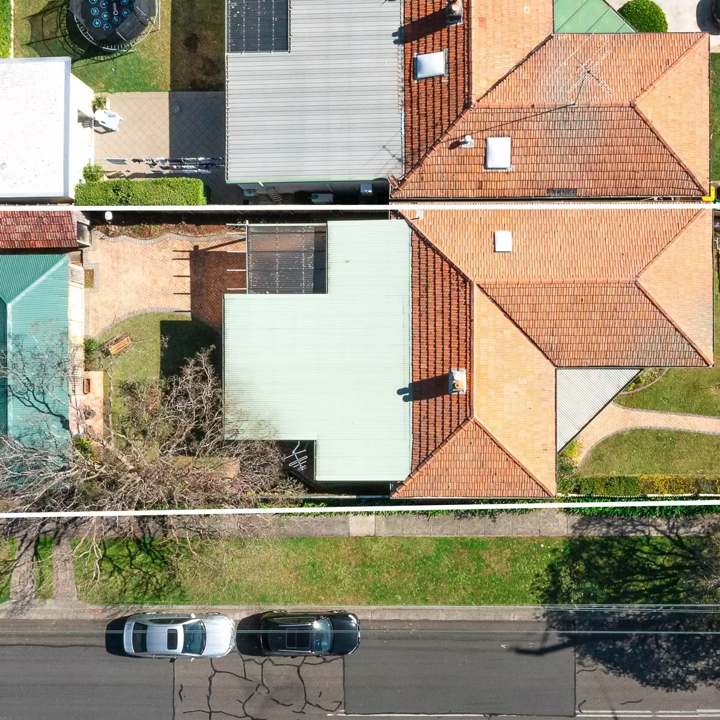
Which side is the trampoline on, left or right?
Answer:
left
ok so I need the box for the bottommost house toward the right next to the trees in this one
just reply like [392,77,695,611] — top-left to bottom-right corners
[222,199,717,500]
